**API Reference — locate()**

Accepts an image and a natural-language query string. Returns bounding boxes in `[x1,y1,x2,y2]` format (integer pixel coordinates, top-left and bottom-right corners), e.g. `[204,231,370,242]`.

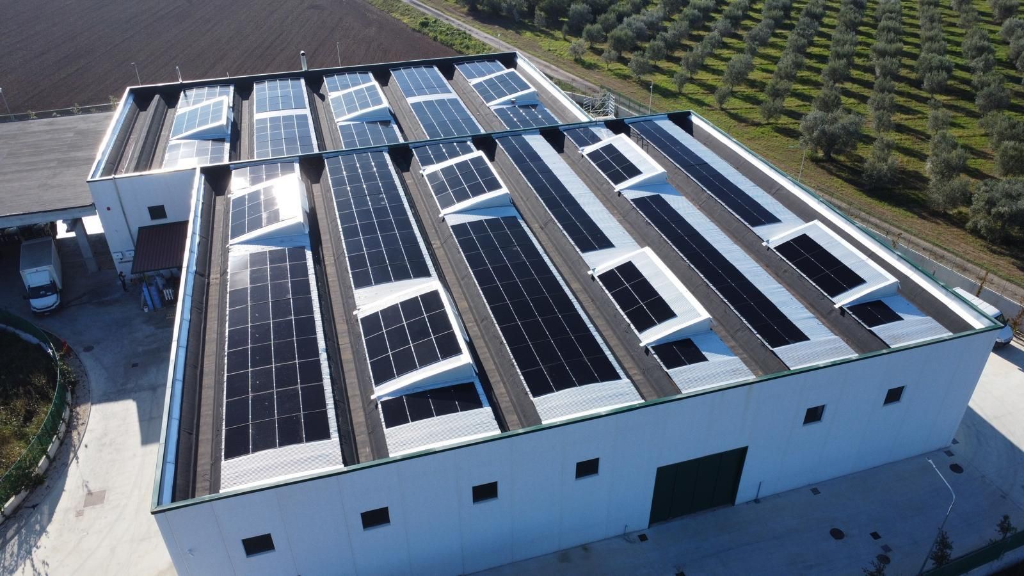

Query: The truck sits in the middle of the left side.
[20,237,65,319]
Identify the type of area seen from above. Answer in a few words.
industrial area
